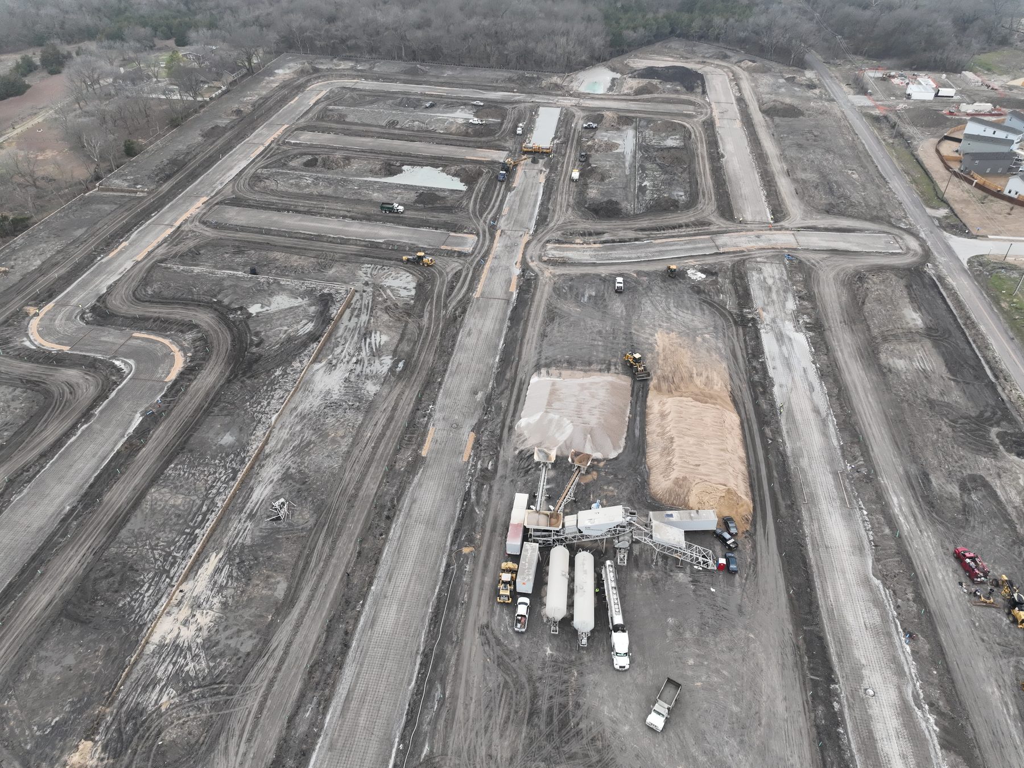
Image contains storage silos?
Yes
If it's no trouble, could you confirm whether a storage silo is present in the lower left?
No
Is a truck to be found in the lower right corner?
Yes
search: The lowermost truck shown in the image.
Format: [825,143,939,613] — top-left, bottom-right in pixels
[643,671,685,735]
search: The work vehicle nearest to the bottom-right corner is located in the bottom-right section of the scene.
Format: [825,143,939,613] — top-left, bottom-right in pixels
[991,572,1024,628]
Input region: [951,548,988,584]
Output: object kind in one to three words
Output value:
truck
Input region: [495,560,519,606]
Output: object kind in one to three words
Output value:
work vehicle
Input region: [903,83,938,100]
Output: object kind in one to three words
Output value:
shed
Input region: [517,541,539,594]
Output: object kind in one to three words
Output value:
trailer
